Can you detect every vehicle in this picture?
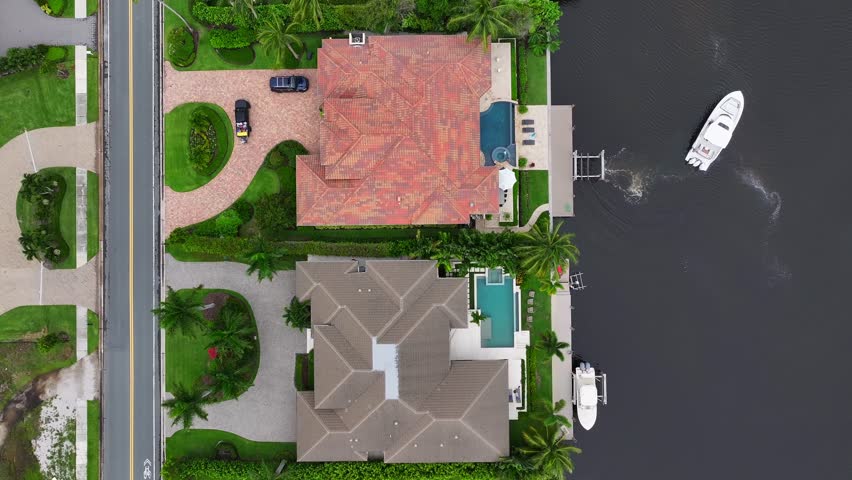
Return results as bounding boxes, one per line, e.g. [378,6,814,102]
[270,73,310,92]
[233,100,252,137]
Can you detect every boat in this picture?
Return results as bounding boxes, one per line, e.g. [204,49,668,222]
[682,91,743,175]
[577,362,597,430]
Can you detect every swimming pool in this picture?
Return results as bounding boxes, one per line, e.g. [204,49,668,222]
[481,101,518,169]
[474,267,521,348]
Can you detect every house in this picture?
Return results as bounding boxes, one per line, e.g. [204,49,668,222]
[296,259,508,462]
[296,33,499,226]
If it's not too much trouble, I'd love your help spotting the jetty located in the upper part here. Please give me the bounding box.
[551,104,576,217]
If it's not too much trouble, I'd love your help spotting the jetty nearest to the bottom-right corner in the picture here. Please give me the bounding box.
[551,259,575,443]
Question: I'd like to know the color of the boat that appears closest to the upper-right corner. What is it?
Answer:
white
